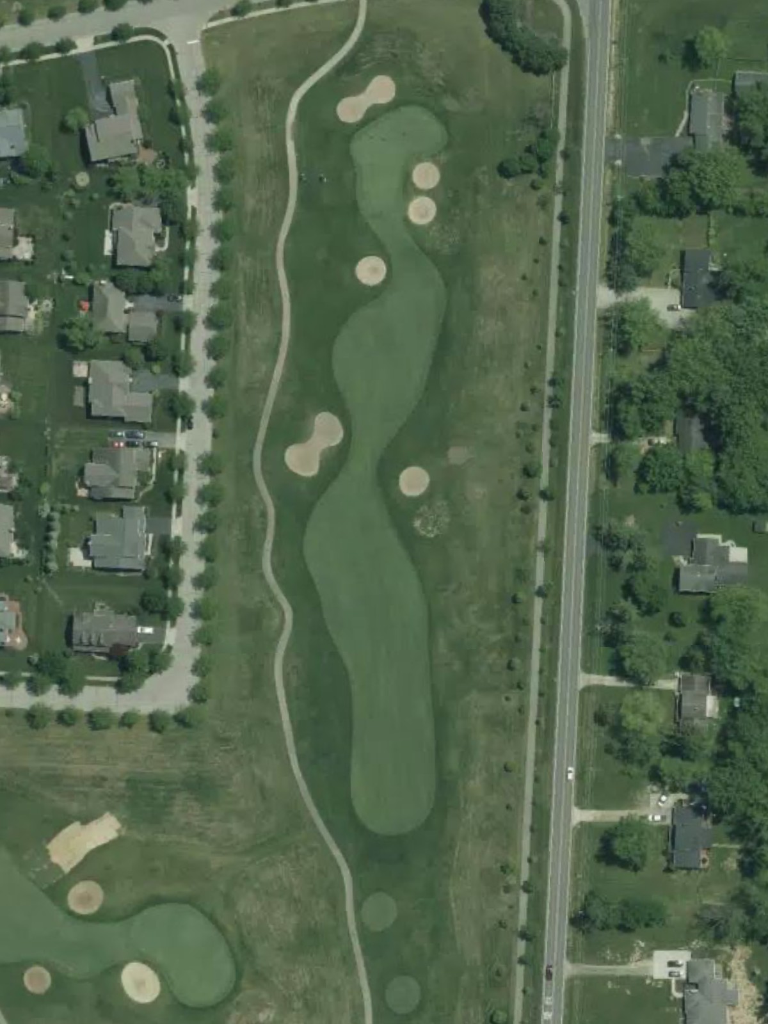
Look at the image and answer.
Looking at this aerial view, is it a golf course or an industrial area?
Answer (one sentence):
What you see here is a golf course.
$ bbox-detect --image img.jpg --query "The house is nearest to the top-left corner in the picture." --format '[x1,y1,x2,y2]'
[0,109,28,158]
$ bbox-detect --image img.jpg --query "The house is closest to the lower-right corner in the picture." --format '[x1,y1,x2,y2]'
[684,959,739,1024]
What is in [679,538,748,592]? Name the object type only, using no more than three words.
house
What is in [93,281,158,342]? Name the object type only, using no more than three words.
house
